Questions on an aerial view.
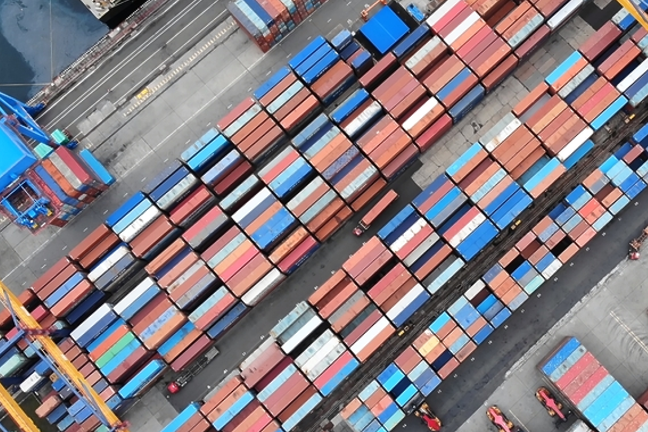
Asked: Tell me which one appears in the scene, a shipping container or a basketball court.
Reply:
shipping container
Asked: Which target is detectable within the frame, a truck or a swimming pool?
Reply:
truck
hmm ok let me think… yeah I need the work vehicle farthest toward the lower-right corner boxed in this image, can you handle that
[536,384,576,429]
